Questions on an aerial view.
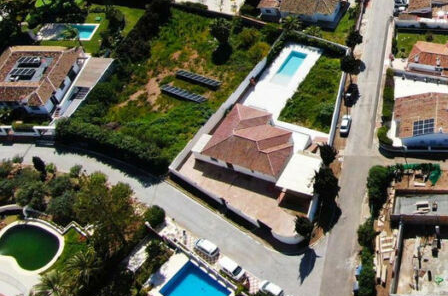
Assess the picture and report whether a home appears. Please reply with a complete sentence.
Yes, the picture does show a home.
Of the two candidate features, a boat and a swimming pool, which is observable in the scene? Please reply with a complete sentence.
It is a swimming pool that can be seen here.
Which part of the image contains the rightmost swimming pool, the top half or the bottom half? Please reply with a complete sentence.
The rightmost swimming pool is in the top half of the image.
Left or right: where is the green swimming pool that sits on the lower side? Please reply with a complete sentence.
The green swimming pool that sits on the lower side is on the left side of the image.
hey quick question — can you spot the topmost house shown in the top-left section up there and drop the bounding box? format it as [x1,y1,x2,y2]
[0,47,116,112]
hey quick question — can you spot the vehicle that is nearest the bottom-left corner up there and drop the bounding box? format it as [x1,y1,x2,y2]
[194,235,219,257]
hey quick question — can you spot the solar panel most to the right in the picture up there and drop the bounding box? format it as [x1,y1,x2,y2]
[413,118,434,135]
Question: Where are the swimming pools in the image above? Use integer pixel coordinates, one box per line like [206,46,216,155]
[0,220,66,274]
[270,50,309,87]
[154,258,235,296]
[68,22,103,42]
